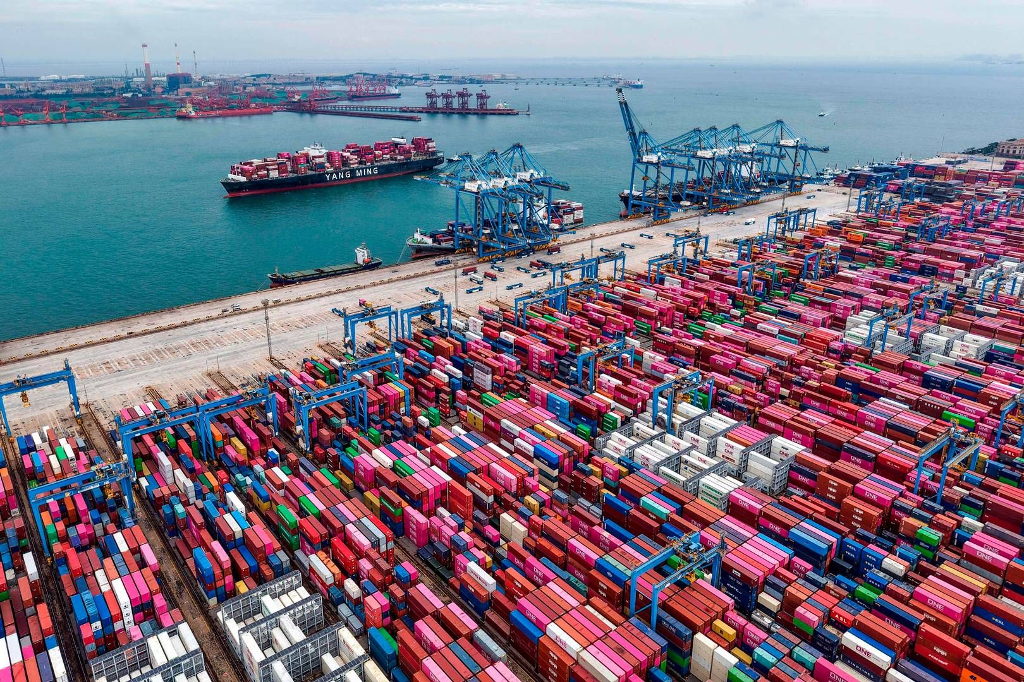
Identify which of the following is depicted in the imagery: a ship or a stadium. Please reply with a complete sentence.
This aerial view contains a ship.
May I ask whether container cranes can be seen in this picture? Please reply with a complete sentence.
Yes, you can see a container crane in this photo.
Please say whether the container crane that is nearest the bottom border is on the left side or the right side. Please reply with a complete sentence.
The container crane that is nearest the bottom border appears in the right half of the scene.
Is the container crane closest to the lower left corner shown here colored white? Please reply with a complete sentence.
No, the color of the container crane closest to the lower left corner is blue.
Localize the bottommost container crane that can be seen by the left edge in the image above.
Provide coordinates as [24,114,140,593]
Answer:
[20,452,144,575]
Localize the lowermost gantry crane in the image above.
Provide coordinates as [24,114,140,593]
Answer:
[635,514,738,666]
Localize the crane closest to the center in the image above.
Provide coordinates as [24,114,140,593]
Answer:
[513,285,564,330]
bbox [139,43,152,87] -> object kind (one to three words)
chimney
